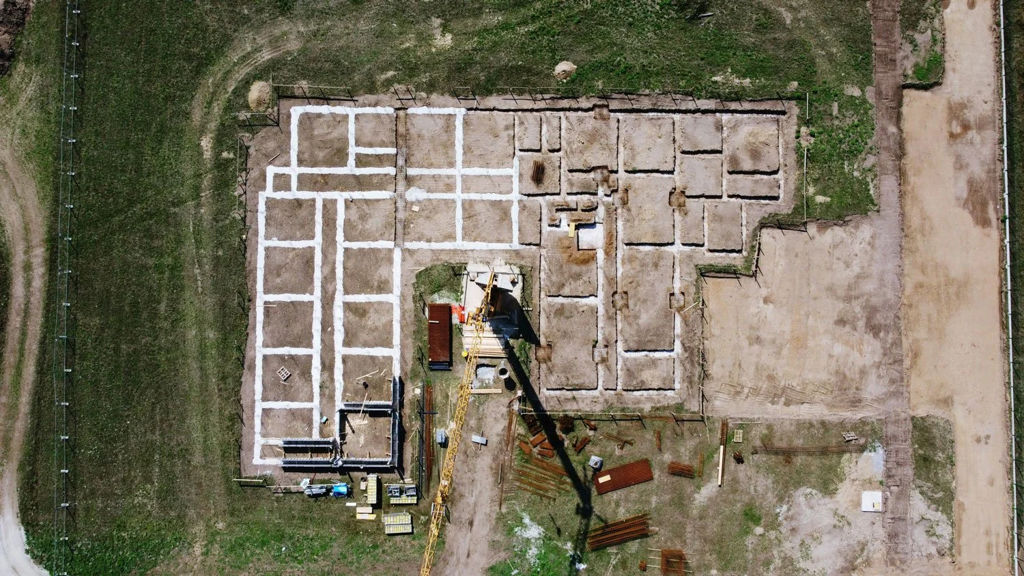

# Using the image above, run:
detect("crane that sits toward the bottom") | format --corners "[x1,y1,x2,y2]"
[417,268,514,576]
